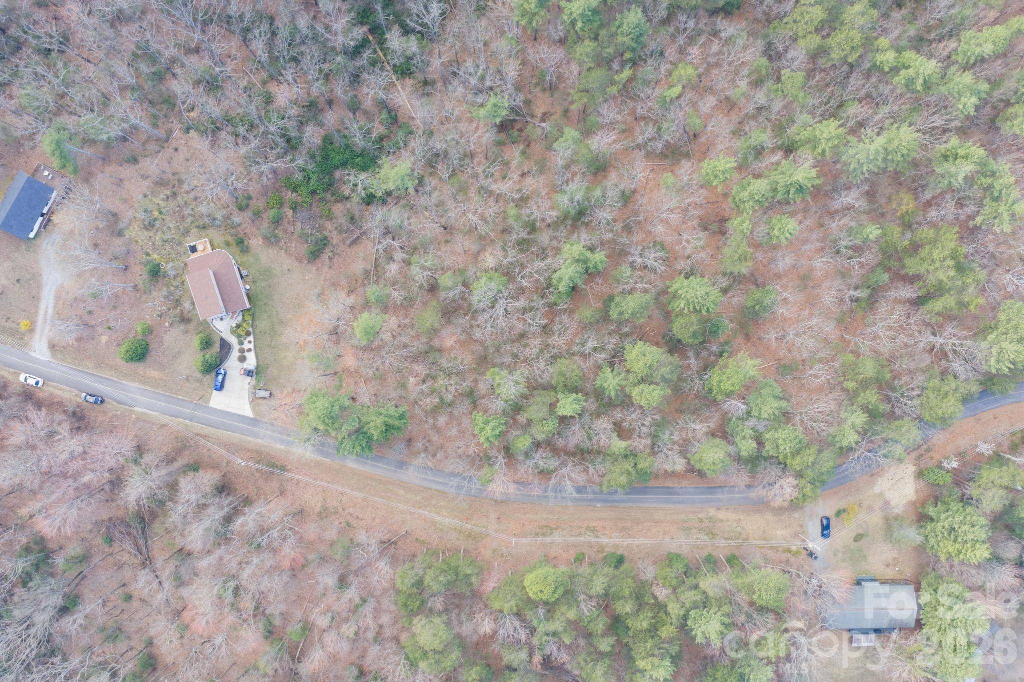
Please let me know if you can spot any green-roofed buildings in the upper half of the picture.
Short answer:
No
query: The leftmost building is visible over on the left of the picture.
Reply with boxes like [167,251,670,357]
[0,169,58,239]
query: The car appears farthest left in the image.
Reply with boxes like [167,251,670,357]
[19,373,46,388]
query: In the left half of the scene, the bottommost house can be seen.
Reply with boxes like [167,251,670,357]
[186,249,251,321]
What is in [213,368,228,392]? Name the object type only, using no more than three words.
car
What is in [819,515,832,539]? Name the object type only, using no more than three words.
vehicle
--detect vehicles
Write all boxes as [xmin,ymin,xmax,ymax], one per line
[82,392,107,405]
[213,368,228,392]
[819,515,832,539]
[19,373,46,388]
[240,368,254,377]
